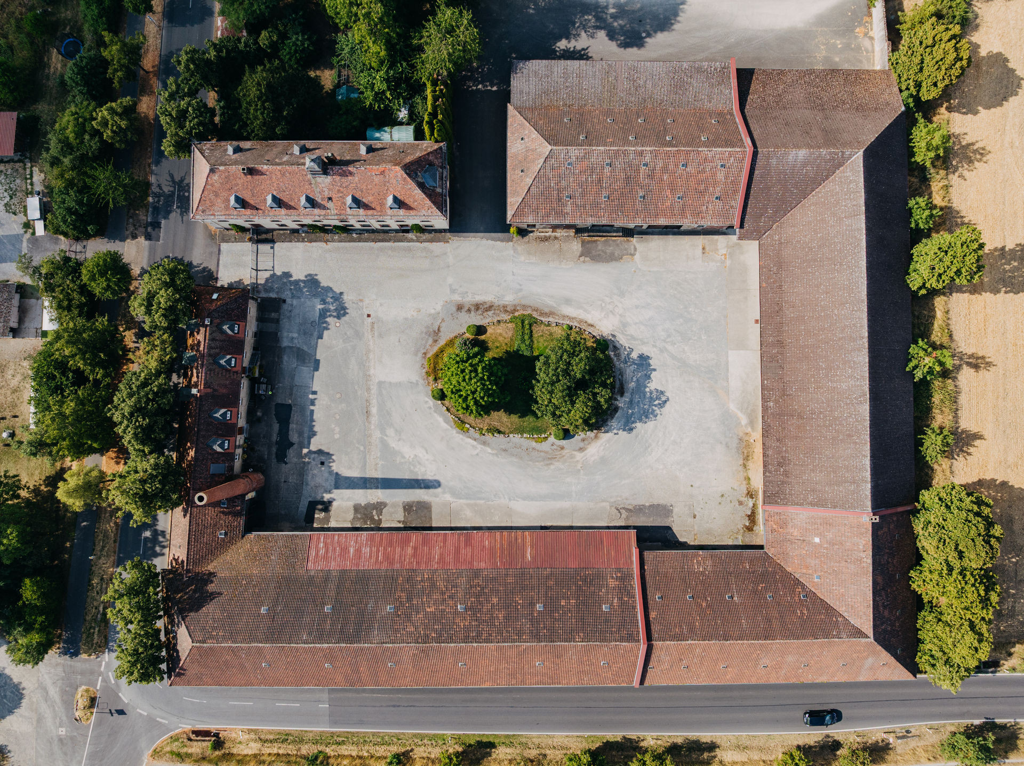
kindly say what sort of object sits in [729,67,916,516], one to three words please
barn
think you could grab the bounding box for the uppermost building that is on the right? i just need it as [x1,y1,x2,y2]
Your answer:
[506,57,753,230]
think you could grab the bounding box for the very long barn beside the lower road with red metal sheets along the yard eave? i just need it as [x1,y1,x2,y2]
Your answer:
[160,530,647,688]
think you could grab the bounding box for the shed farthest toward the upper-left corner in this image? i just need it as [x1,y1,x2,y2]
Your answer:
[0,112,40,172]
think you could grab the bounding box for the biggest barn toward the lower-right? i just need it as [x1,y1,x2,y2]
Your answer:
[639,506,918,687]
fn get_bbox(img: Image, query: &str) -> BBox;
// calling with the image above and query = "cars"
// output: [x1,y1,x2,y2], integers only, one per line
[803,708,835,728]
